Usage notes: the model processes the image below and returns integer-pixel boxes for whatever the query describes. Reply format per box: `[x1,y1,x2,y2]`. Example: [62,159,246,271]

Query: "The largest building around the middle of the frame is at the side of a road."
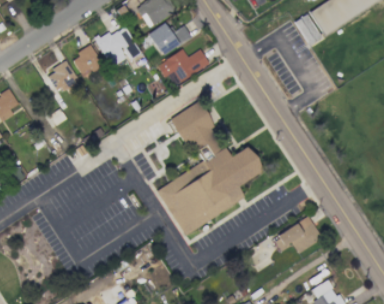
[160,101,262,236]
